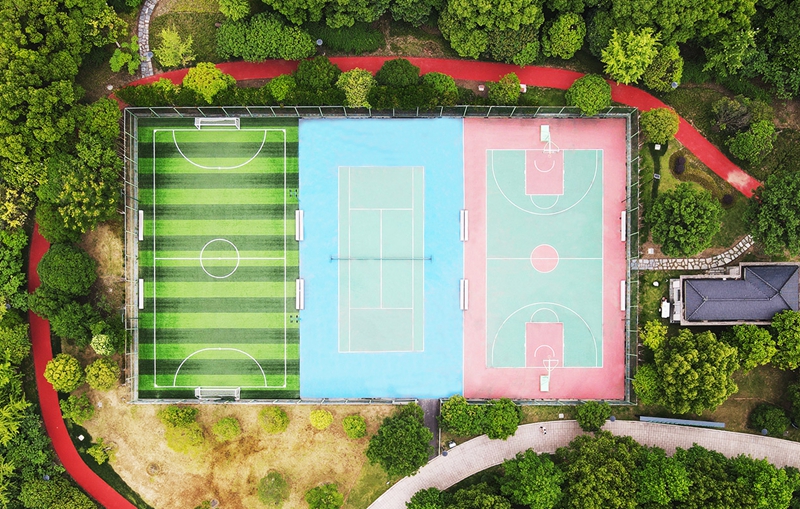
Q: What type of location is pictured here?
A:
sports ground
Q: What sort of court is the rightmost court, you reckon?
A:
basketball court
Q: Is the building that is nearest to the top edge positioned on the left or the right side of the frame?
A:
right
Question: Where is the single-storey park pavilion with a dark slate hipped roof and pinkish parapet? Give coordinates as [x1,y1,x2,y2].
[667,263,800,324]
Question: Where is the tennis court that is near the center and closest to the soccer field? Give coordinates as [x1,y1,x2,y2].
[299,118,463,399]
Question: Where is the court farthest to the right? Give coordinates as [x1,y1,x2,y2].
[463,118,626,399]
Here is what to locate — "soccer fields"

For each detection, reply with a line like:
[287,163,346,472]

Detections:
[138,118,299,399]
